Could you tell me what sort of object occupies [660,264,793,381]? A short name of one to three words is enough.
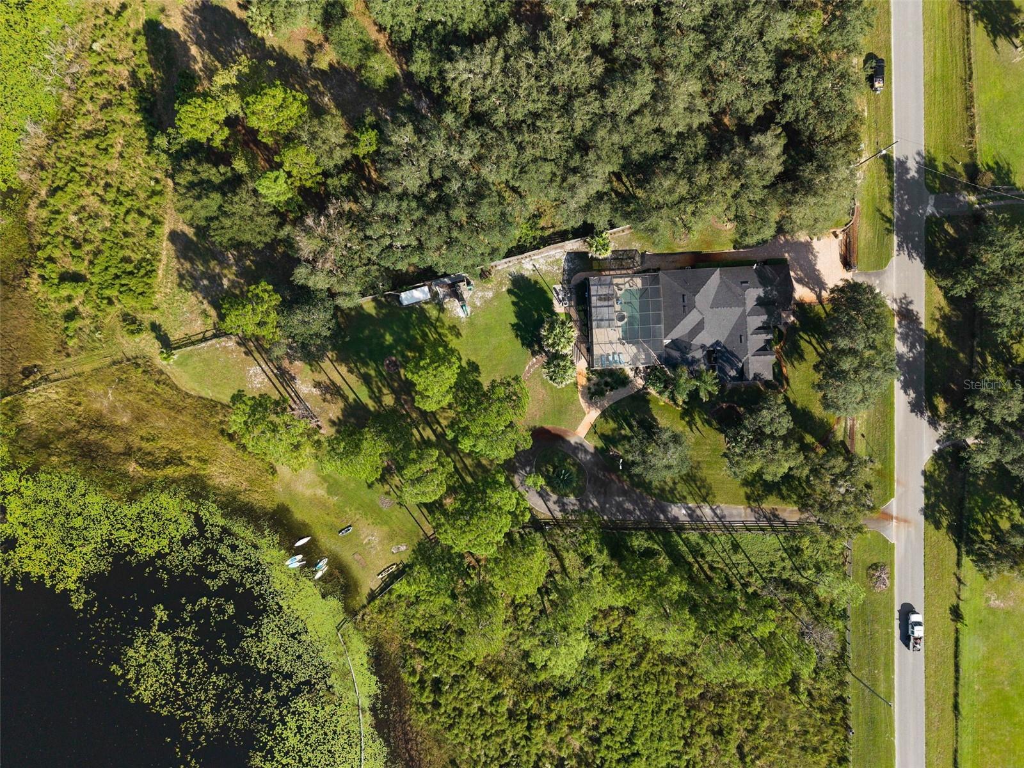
house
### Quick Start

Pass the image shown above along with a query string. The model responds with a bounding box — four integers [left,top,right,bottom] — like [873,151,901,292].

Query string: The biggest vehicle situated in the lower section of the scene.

[907,609,925,650]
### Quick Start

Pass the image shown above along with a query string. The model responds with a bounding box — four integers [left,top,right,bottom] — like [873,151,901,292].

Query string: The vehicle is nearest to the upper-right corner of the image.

[872,54,889,95]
